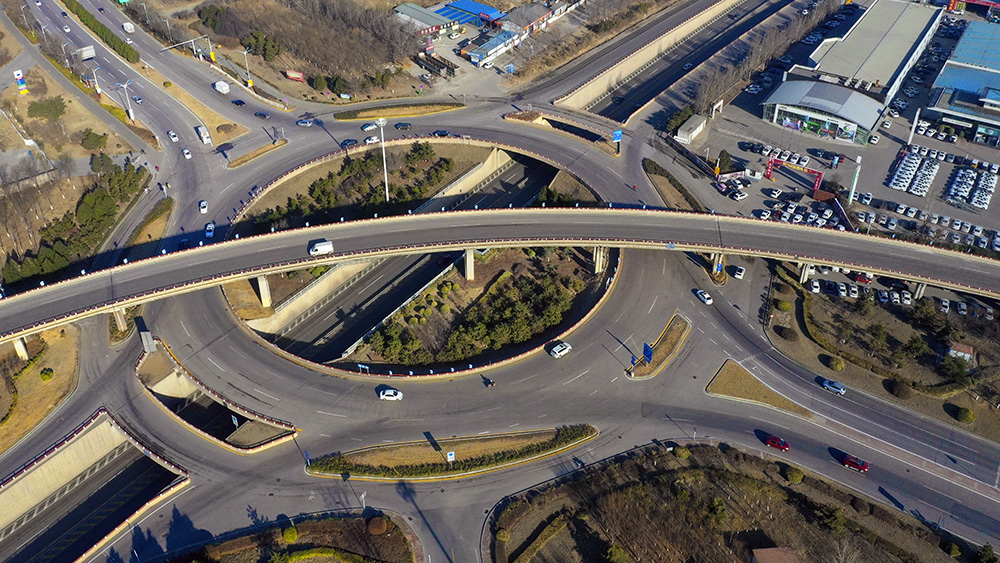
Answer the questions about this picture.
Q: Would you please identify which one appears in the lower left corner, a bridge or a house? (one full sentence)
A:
You can see a bridge in the lower left corner.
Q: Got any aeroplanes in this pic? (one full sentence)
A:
No, there's no aeroplane here.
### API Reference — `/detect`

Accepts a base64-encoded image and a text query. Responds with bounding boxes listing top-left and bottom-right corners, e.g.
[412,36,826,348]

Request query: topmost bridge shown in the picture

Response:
[535,101,632,139]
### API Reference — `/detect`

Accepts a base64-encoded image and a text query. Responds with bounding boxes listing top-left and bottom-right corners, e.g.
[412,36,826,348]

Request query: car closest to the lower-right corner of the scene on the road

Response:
[842,454,870,473]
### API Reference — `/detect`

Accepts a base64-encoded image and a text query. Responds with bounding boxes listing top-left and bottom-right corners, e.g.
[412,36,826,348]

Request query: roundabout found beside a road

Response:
[150,112,686,435]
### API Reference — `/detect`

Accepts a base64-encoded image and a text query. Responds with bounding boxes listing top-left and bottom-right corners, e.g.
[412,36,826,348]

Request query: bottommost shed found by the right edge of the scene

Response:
[946,342,973,364]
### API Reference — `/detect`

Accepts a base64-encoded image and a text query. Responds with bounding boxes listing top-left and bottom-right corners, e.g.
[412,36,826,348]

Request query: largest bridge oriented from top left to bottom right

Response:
[105,378,230,481]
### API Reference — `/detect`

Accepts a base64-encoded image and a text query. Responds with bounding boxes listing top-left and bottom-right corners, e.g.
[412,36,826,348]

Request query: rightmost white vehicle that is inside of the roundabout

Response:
[550,343,572,358]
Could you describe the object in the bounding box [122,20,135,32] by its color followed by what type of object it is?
white vehicle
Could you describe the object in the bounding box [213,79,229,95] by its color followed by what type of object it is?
white vehicle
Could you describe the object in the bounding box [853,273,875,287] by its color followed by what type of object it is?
red vehicle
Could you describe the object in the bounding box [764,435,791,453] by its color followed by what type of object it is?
red car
